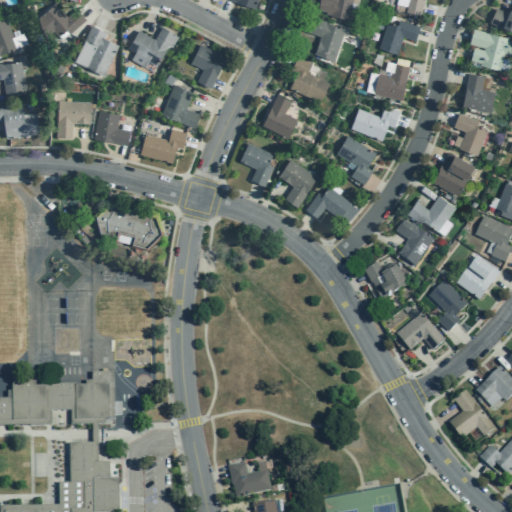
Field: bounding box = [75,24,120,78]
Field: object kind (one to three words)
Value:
house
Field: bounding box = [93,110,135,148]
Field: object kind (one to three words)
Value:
house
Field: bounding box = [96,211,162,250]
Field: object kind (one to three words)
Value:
building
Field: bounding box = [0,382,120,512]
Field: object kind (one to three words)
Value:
building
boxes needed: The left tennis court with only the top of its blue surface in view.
[325,490,368,512]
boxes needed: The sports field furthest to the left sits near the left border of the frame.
[0,182,28,364]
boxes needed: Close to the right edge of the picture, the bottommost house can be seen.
[478,442,512,478]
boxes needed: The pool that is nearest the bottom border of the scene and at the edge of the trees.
[120,60,154,84]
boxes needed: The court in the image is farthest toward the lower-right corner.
[365,484,404,512]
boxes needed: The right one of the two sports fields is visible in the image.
[96,286,152,339]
